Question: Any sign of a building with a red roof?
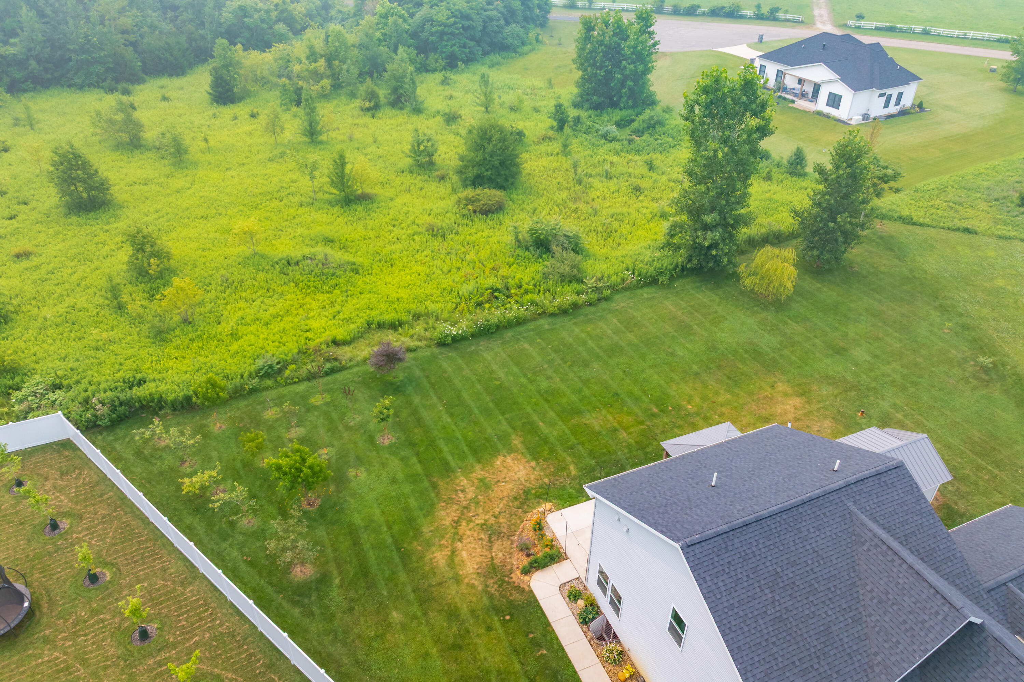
No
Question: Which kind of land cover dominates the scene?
grass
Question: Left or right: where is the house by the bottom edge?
right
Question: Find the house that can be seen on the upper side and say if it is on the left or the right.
right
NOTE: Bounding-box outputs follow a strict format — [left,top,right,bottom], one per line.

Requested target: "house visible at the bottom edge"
[581,418,1024,682]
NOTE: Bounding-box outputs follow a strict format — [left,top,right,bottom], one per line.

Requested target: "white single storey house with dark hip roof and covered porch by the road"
[755,33,924,119]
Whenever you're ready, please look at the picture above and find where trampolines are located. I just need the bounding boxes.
[0,565,39,647]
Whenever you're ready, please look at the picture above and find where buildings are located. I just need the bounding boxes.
[581,418,1024,682]
[755,33,924,119]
